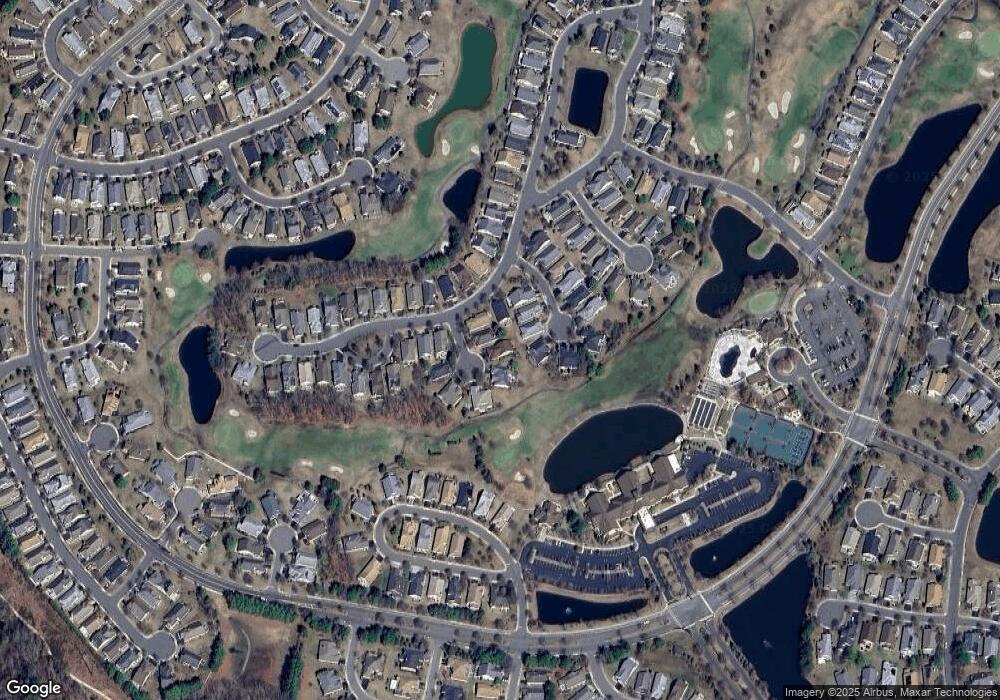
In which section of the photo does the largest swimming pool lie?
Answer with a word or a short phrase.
right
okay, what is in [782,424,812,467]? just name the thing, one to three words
sports court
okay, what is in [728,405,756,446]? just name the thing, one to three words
tennis court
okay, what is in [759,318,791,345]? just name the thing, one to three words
building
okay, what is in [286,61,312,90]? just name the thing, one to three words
house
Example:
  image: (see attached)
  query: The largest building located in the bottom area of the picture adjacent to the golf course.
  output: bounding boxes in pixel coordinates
[582,453,692,537]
